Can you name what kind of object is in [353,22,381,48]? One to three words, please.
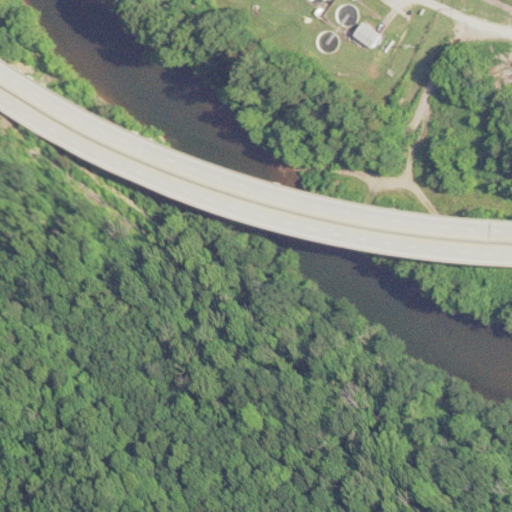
building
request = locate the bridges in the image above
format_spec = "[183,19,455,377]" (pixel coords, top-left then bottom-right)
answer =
[0,58,512,268]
